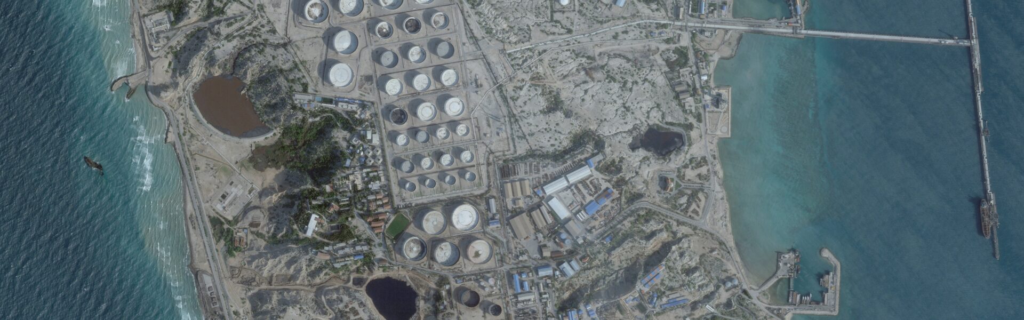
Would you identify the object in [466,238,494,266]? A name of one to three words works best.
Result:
storage tank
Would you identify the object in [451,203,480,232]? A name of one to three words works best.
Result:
storage tank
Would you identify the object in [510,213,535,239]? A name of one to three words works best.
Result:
building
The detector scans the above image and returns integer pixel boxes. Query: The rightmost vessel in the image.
[980,199,992,238]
